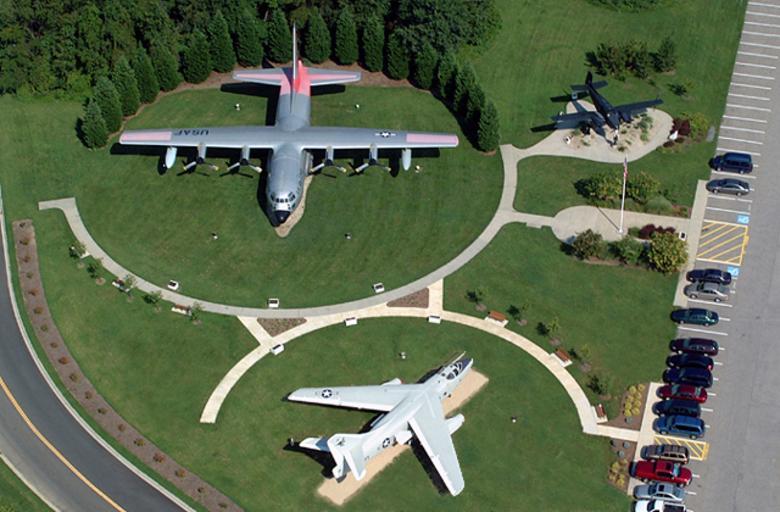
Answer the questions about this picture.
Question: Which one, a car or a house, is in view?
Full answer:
The image shows a car.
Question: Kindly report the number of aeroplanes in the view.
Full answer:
The number of aeroplanes here is 3.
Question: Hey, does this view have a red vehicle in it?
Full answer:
Yes, a red vehicle can be made out from above.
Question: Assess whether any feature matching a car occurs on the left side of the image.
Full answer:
No, I can find no car on the left side of the image.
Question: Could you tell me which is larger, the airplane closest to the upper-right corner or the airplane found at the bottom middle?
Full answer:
The larger object is the airplane found at the bottom middle, with the airplane closest to the upper-right corner being the smaller of the pair.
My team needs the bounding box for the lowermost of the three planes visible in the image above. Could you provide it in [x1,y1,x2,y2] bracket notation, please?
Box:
[284,353,473,493]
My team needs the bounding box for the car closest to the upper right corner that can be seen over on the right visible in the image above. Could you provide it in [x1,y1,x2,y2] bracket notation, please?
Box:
[708,153,753,175]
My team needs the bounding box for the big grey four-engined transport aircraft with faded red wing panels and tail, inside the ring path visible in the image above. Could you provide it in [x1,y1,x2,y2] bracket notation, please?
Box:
[120,24,456,222]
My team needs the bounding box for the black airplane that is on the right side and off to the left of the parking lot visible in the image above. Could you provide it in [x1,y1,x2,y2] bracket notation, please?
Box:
[548,71,661,155]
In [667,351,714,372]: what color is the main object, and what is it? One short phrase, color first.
black car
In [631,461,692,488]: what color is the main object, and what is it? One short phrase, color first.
red truck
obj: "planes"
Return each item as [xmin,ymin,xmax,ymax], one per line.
[548,71,661,155]
[284,353,473,493]
[120,24,456,222]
